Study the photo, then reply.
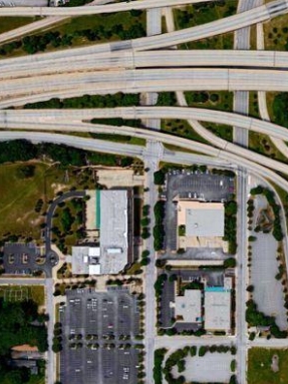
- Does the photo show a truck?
No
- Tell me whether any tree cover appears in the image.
Yes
